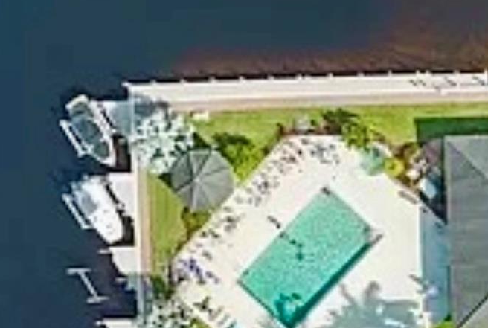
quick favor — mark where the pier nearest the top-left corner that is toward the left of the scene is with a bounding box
[99,99,130,135]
